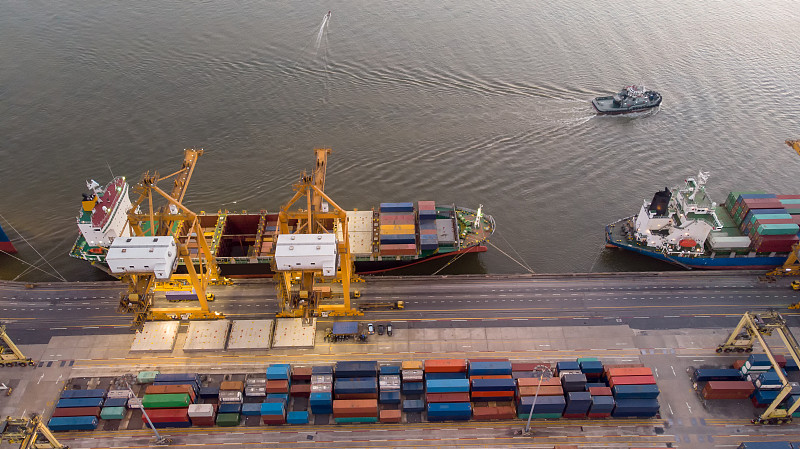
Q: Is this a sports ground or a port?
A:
port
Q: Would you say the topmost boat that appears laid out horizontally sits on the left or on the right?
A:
right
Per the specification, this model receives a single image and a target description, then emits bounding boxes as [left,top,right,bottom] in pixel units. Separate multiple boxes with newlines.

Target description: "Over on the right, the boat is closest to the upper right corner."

[590,80,663,113]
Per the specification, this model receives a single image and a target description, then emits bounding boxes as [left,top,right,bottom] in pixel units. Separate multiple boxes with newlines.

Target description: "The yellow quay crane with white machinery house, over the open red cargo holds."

[264,147,373,325]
